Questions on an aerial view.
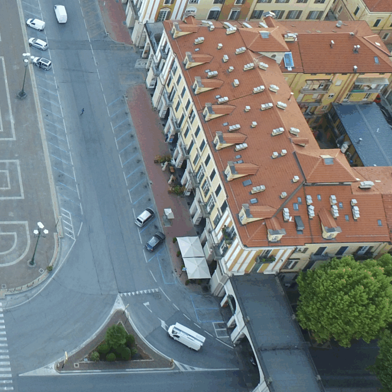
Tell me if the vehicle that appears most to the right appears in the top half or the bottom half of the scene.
bottom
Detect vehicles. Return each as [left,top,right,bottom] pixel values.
[134,207,155,228]
[53,7,68,22]
[32,56,58,69]
[27,38,50,50]
[167,324,209,352]
[25,19,47,31]
[145,231,165,253]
